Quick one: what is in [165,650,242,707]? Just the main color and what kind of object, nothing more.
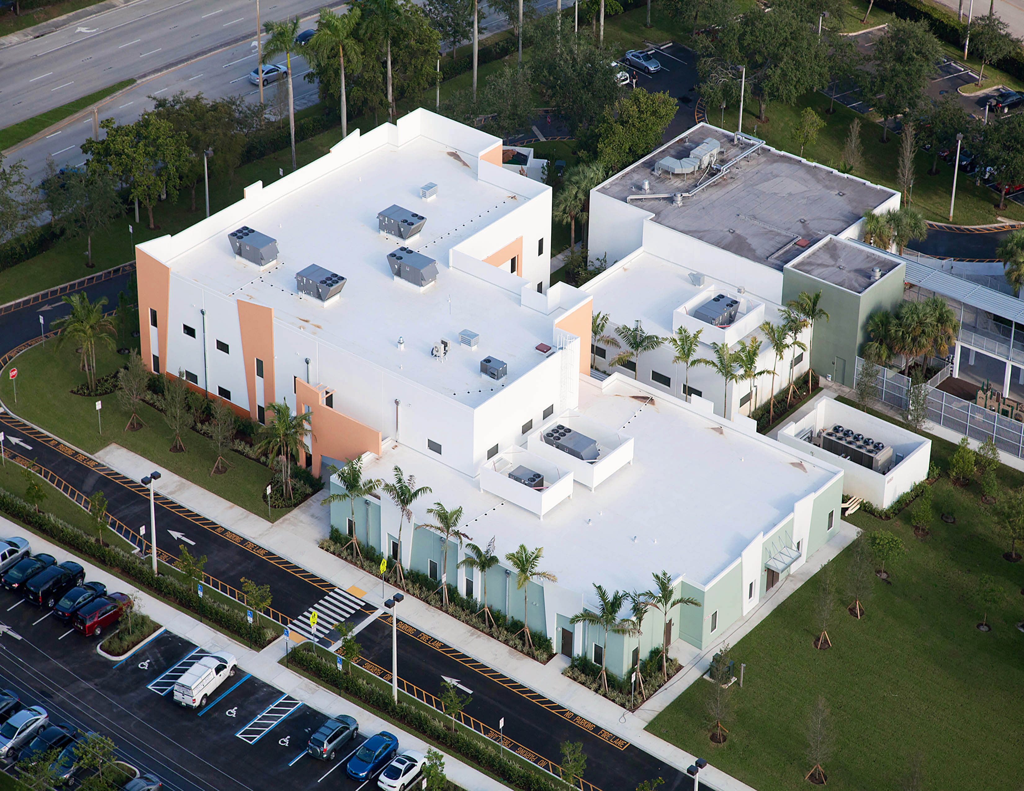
white truck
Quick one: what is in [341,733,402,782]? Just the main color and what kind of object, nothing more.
blue car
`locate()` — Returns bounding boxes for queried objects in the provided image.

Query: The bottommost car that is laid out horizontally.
[111,766,165,791]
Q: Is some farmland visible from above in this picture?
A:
No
